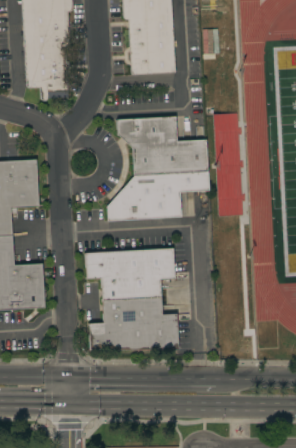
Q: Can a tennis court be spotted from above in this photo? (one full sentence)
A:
No, the picture doesn't show any tennis court.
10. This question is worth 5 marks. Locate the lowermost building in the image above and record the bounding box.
[90,297,180,348]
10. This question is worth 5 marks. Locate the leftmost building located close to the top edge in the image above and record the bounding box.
[22,0,74,102]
